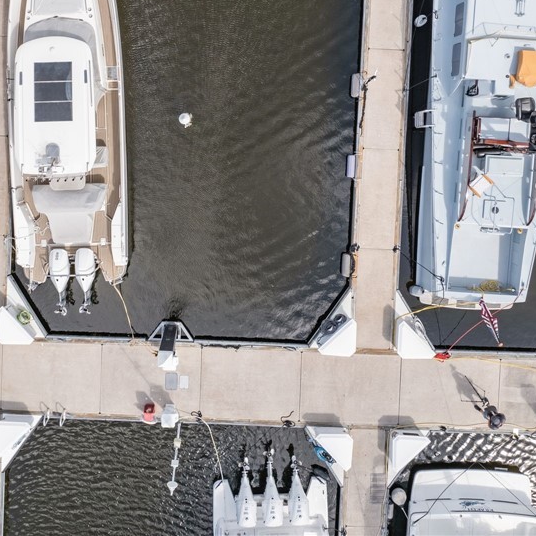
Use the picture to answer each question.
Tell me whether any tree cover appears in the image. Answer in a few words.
No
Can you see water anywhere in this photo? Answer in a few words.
Yes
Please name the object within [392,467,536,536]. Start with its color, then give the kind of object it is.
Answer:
white boat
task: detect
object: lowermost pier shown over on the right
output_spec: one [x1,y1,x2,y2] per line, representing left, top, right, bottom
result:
[333,430,391,536]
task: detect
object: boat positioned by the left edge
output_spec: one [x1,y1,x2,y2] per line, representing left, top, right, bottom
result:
[8,0,130,318]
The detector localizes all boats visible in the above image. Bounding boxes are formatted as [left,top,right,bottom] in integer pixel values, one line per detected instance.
[212,442,330,536]
[392,467,536,536]
[408,0,536,311]
[8,0,130,318]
